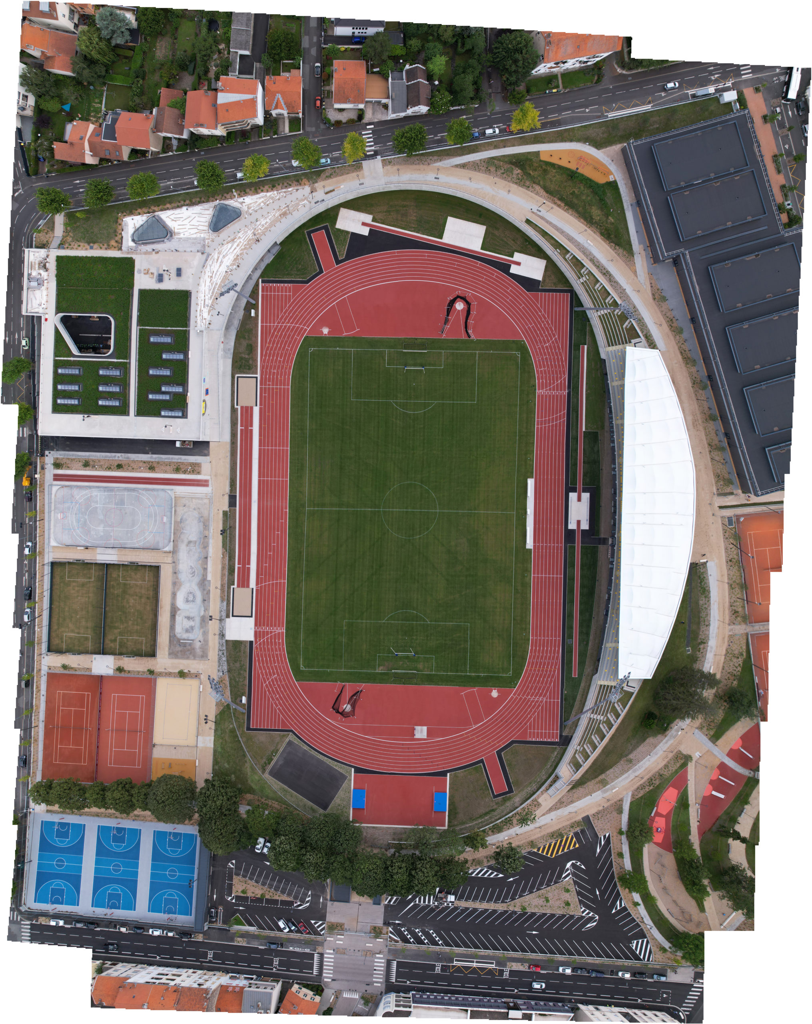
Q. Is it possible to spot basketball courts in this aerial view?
Yes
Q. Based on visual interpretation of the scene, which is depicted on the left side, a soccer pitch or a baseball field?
soccer pitch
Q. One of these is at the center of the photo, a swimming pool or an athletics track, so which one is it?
athletics track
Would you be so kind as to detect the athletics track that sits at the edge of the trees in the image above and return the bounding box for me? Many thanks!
[246,224,603,799]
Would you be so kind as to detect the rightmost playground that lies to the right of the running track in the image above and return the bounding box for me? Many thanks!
[698,718,762,841]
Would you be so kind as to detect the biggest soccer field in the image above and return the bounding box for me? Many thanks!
[284,335,535,686]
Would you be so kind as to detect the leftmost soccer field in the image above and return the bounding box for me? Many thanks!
[47,561,106,655]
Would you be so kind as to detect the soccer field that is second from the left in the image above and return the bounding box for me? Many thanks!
[102,563,161,658]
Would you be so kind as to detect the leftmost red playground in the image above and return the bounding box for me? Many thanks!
[648,766,689,854]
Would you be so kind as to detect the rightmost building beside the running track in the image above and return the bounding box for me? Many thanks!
[621,108,803,497]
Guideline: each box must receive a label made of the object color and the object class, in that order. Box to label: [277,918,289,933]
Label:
white vehicle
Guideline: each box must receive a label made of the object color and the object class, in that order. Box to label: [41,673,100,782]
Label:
red tennis court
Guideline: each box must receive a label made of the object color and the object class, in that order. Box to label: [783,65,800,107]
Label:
white vehicle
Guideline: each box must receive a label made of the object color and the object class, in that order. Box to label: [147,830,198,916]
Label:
blue basketball court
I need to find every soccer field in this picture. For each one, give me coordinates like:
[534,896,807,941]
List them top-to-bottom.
[284,335,535,686]
[47,561,106,655]
[102,563,161,658]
